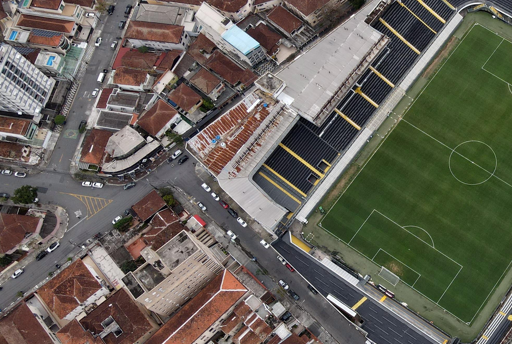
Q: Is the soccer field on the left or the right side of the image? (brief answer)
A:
right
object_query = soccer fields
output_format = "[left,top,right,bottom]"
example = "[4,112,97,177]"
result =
[301,11,512,341]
